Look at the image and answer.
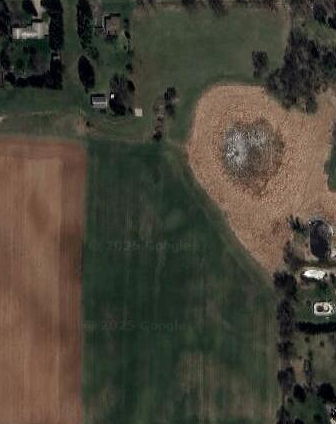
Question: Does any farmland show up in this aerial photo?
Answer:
Yes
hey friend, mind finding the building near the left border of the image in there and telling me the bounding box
[12,19,46,37]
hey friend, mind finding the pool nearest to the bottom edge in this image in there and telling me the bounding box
[313,302,331,316]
